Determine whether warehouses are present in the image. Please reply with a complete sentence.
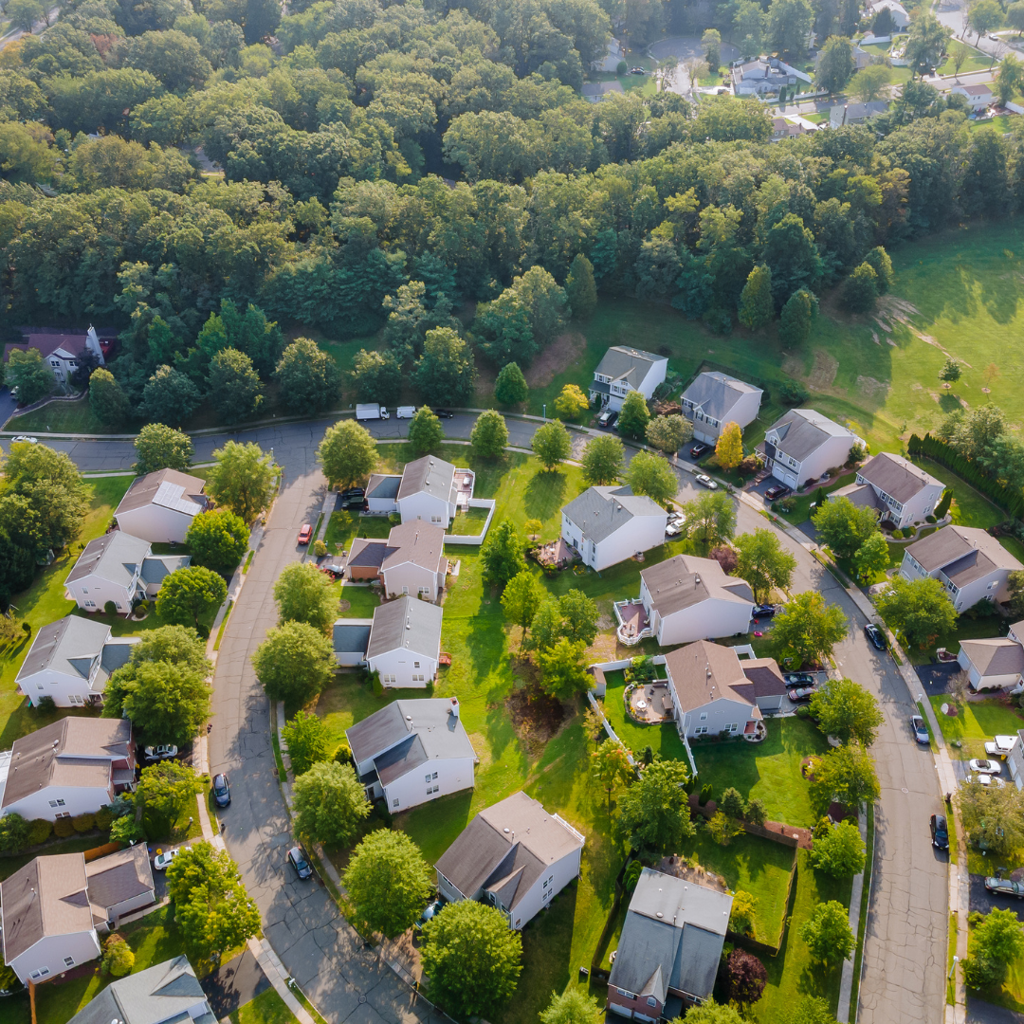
No, I find no warehouse anywhere in the image.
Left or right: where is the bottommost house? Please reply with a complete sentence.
The bottommost house sits on the left side.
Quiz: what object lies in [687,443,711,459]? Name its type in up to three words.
car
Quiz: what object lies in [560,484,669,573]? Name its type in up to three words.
house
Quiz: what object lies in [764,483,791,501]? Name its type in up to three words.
car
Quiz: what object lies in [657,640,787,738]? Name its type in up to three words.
house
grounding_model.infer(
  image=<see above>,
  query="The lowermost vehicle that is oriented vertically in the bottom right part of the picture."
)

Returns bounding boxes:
[929,810,952,850]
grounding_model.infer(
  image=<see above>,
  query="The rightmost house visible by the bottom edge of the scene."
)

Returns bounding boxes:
[607,867,734,1024]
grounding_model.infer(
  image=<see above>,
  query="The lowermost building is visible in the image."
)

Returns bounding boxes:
[44,954,201,1024]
